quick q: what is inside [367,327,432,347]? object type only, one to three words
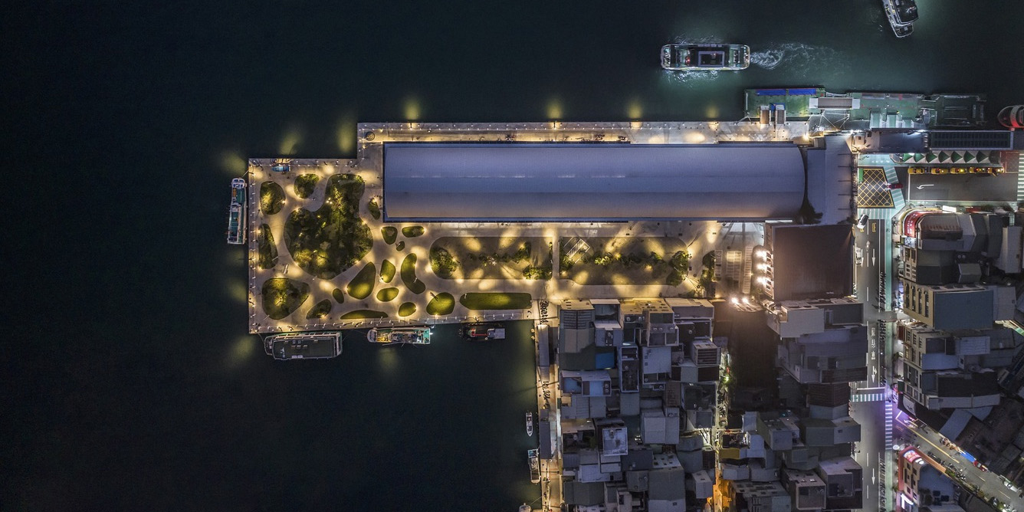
boat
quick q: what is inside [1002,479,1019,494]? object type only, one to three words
vehicle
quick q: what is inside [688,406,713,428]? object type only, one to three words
house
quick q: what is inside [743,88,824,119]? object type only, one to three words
pier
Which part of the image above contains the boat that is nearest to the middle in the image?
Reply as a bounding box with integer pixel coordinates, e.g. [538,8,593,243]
[458,324,505,342]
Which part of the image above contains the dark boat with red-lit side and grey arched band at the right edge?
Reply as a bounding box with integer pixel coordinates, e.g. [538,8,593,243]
[994,104,1024,131]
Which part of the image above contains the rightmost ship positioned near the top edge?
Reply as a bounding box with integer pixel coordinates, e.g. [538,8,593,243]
[877,0,918,37]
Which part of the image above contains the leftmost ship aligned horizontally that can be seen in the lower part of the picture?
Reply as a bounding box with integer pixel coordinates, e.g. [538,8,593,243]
[264,331,343,360]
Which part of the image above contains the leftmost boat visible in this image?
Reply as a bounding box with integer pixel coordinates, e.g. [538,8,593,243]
[226,178,248,245]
